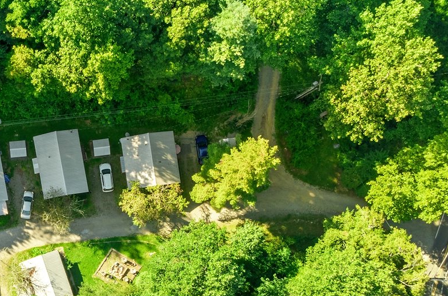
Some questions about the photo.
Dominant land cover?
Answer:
trees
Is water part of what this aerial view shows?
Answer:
No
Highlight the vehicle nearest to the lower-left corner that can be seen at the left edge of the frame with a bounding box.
[20,191,34,220]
